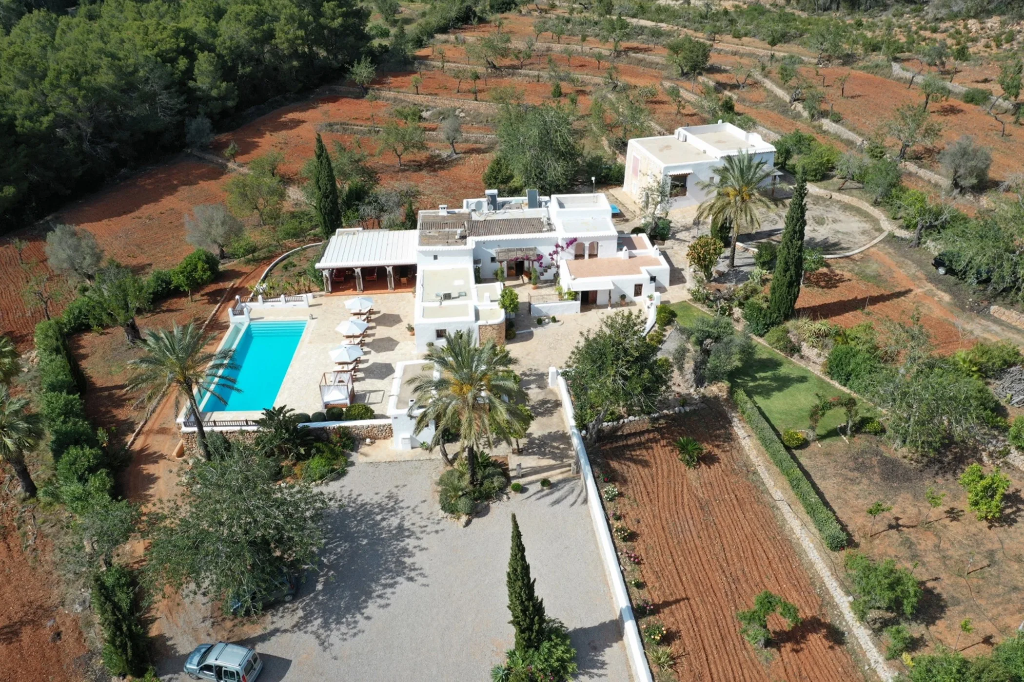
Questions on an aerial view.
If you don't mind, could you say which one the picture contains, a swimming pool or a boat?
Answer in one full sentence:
Of the two, only a swimming pool appears.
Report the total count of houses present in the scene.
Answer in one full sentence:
I count 2 houses.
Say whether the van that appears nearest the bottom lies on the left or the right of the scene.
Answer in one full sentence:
It is on the left.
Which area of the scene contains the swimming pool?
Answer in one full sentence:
Look in the left portion of the view to spot the swimming pool.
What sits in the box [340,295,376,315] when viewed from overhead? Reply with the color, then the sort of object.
white umbrella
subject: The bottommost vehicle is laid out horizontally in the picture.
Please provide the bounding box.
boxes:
[180,644,261,682]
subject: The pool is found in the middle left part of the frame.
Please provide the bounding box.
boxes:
[182,318,312,416]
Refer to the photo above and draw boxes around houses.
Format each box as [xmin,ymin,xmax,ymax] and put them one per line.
[315,179,669,353]
[626,120,784,211]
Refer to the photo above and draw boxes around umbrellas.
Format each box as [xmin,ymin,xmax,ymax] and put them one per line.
[340,295,376,315]
[324,340,364,369]
[332,315,369,339]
